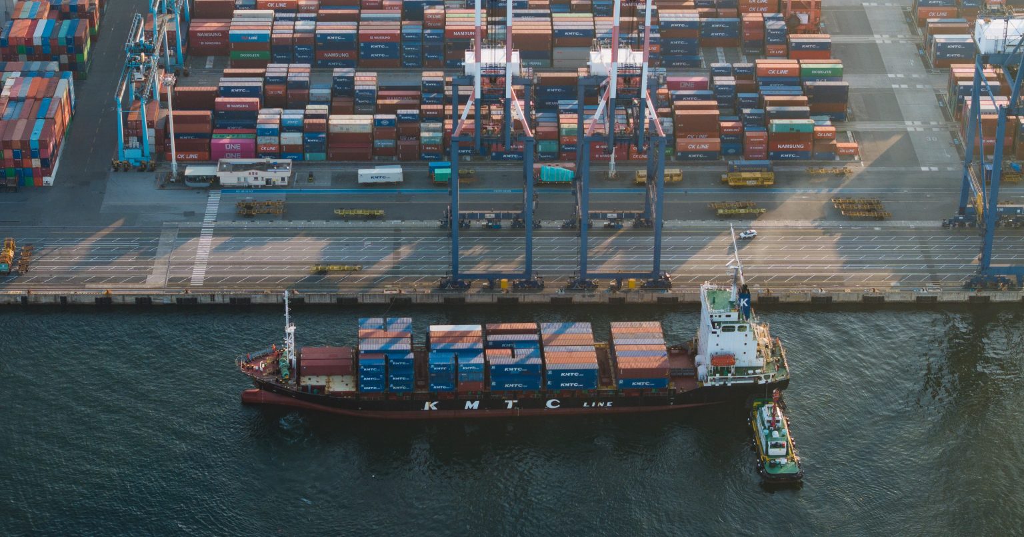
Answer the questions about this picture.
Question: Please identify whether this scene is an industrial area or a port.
port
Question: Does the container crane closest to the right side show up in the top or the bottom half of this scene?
top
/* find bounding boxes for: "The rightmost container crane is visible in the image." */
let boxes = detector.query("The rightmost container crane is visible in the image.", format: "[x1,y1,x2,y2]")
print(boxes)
[945,6,1024,287]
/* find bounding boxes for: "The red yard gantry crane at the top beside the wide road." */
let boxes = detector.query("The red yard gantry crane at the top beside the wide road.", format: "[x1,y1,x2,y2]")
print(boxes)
[778,0,823,37]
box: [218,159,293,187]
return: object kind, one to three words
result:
building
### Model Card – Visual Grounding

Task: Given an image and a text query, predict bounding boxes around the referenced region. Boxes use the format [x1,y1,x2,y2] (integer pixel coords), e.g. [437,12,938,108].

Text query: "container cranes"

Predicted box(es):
[158,0,200,72]
[945,6,1024,287]
[436,0,547,287]
[114,49,168,170]
[560,0,676,287]
[778,0,823,37]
